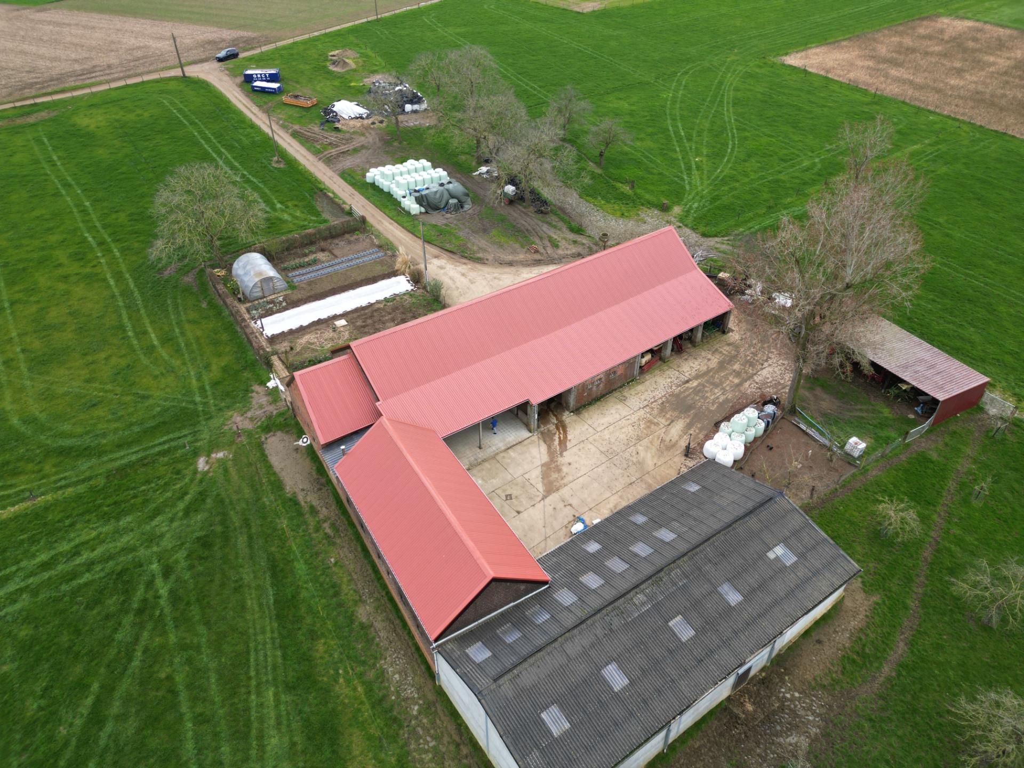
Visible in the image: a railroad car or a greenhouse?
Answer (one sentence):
Of the two, only a greenhouse appears.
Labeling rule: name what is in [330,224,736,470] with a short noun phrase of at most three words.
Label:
barn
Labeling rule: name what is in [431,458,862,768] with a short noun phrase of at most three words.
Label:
barn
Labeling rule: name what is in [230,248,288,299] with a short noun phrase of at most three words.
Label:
greenhouse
